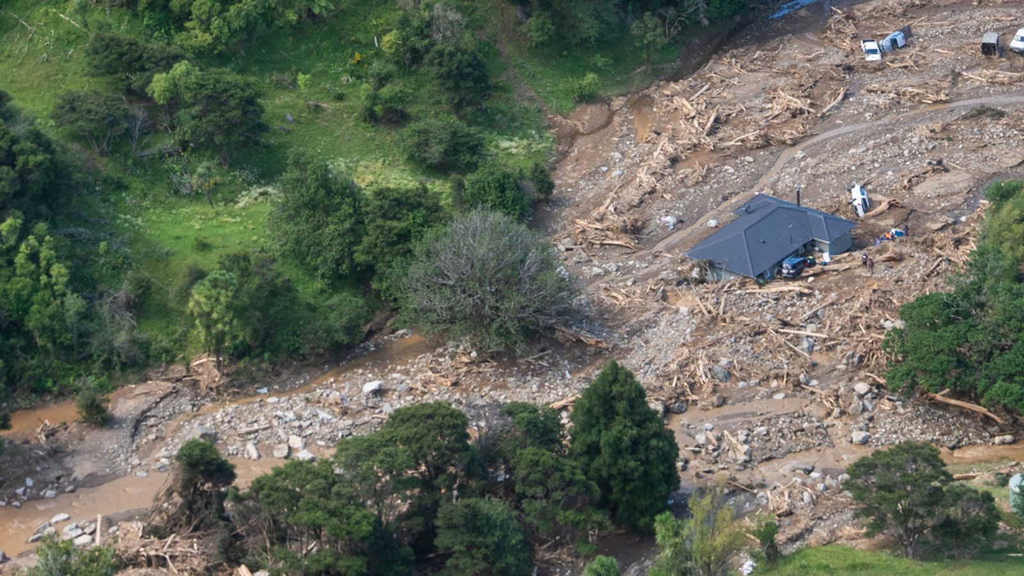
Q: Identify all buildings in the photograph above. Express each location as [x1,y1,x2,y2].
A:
[685,188,855,286]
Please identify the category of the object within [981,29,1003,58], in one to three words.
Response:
truck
